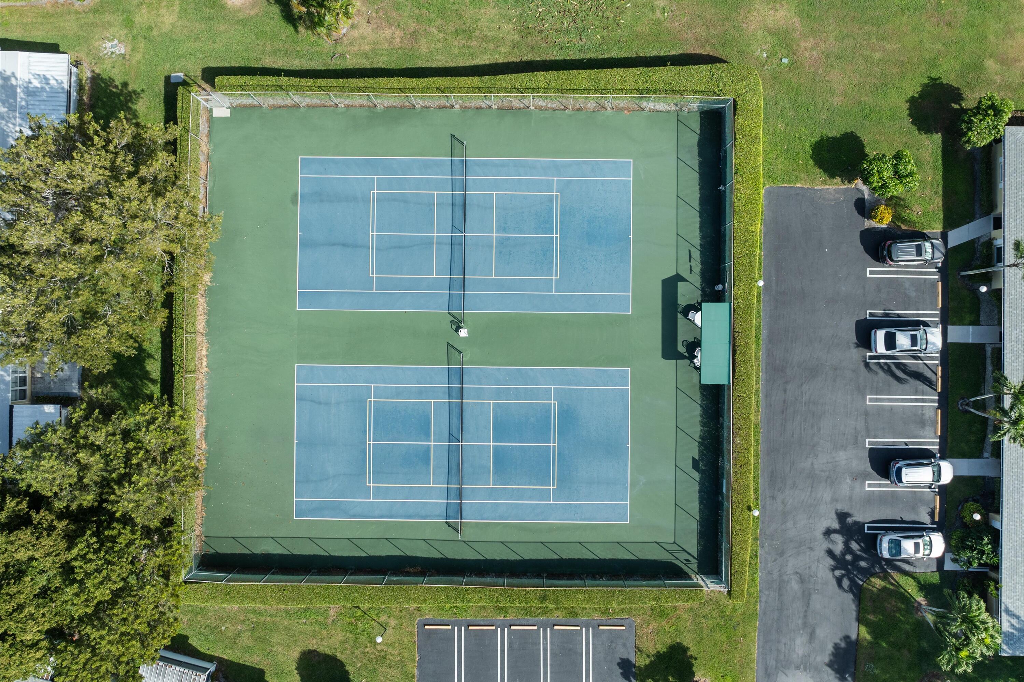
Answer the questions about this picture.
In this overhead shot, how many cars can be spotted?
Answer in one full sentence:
The picture shows 4 cars.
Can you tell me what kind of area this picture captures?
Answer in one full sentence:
This looks like a sports ground.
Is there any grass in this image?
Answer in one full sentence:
Yes, grass shows up in the scene.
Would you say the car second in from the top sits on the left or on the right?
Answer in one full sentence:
The car second in from the top sits on the right side.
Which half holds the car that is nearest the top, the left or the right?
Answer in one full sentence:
It is on the right.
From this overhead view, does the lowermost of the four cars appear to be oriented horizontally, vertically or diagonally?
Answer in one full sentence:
I'd say the lowermost of the four cars is aligned horizontally in the picture.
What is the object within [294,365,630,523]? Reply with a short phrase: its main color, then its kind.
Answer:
blue tennis court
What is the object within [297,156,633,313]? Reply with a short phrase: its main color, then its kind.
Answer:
blue tennis court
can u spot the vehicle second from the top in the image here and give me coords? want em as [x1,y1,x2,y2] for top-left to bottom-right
[869,324,943,357]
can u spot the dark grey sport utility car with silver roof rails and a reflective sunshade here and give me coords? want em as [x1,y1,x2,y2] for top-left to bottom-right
[877,234,946,268]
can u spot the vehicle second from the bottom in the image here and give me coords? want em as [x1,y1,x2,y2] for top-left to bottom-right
[887,457,954,490]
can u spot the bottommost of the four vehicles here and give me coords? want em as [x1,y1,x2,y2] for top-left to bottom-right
[875,529,946,562]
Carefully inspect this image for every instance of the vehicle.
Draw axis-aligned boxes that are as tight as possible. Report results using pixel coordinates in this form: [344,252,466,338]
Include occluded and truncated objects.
[869,324,943,357]
[887,457,954,490]
[875,529,946,562]
[877,234,946,268]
